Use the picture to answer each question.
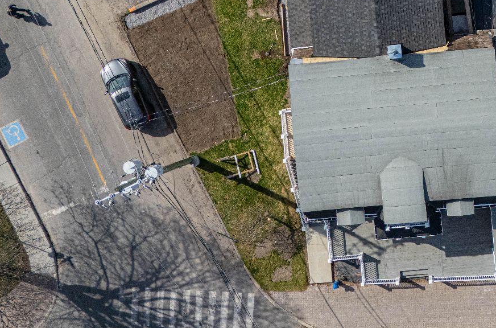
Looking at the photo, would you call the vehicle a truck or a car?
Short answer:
car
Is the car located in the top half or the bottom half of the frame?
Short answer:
top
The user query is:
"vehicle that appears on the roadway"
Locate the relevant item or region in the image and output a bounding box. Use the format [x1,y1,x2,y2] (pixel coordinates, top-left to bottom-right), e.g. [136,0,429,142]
[101,54,156,134]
